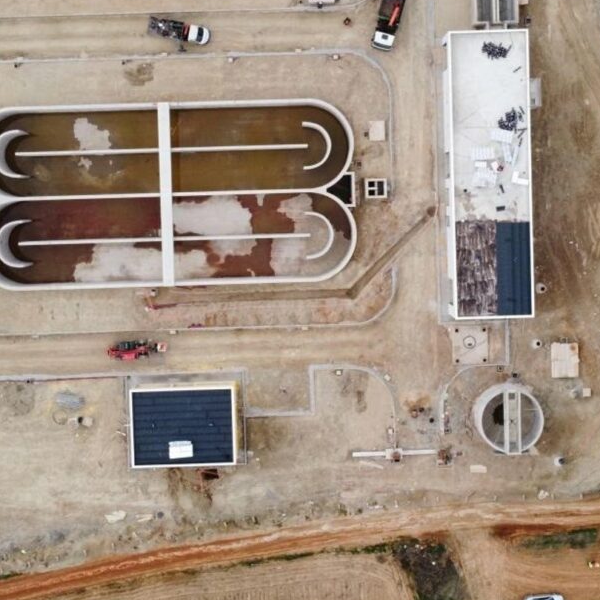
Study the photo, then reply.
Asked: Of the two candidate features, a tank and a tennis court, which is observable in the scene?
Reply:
tank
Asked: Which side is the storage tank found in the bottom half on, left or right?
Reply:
right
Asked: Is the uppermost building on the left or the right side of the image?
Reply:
right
